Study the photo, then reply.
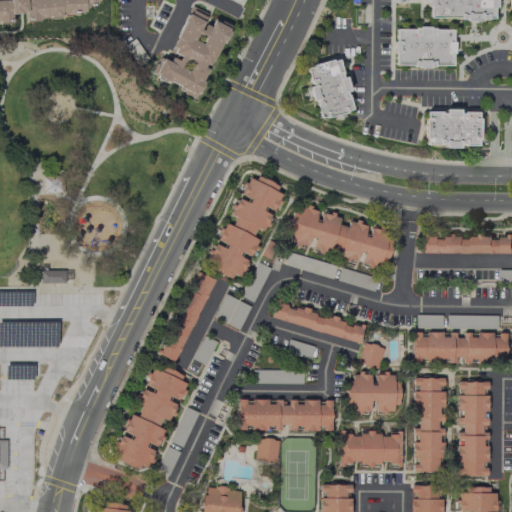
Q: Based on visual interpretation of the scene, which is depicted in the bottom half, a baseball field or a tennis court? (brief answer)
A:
tennis court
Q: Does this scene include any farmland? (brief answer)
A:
No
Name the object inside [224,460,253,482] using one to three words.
swimming pool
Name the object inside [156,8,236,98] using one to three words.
building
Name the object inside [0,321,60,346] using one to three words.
solar panel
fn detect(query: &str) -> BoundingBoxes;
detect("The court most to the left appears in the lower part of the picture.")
[281,436,316,511]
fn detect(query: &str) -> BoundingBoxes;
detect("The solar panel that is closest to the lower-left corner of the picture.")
[8,365,35,379]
